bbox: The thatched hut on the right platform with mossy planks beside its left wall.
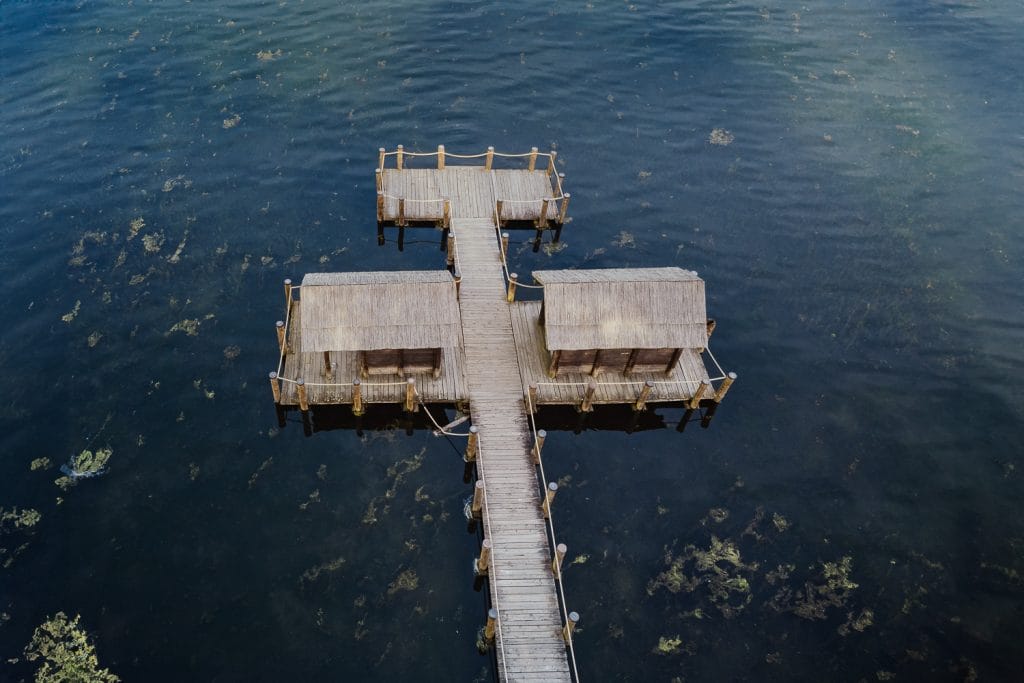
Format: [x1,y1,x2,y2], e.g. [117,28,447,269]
[533,270,710,377]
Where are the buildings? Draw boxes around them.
[301,270,458,381]
[533,270,710,377]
